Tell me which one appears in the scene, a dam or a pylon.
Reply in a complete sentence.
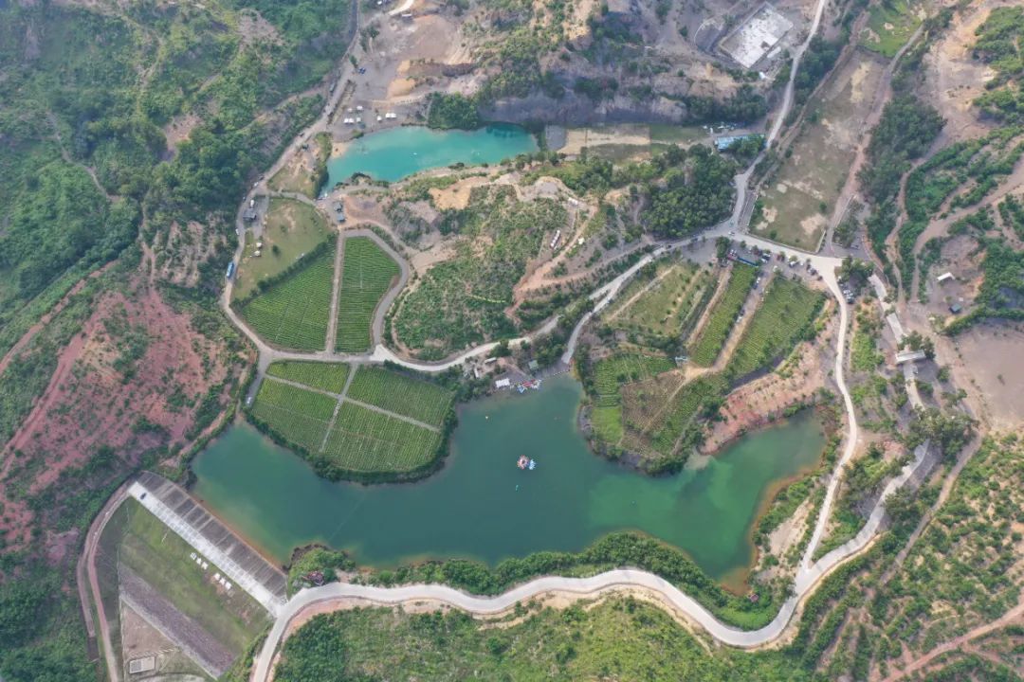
The one in the frame is a dam.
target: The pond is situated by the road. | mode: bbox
[321,123,537,195]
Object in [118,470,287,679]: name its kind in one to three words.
dam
